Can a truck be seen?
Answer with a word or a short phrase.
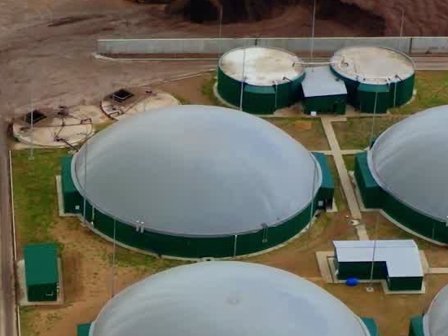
No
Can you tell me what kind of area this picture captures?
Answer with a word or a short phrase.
industrial area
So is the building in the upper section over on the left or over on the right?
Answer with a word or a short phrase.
right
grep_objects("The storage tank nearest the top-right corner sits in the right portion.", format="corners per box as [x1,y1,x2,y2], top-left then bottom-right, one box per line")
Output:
[330,47,416,116]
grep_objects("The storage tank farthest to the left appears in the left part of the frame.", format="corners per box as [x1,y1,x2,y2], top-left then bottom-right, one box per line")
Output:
[11,108,93,150]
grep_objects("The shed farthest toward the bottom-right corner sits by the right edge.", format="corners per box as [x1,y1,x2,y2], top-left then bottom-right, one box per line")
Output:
[319,238,432,298]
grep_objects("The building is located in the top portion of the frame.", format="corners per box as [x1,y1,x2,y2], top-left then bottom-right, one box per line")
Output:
[294,64,349,120]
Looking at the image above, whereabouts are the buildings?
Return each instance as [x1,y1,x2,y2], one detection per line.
[11,242,63,305]
[294,64,349,120]
[319,238,432,298]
